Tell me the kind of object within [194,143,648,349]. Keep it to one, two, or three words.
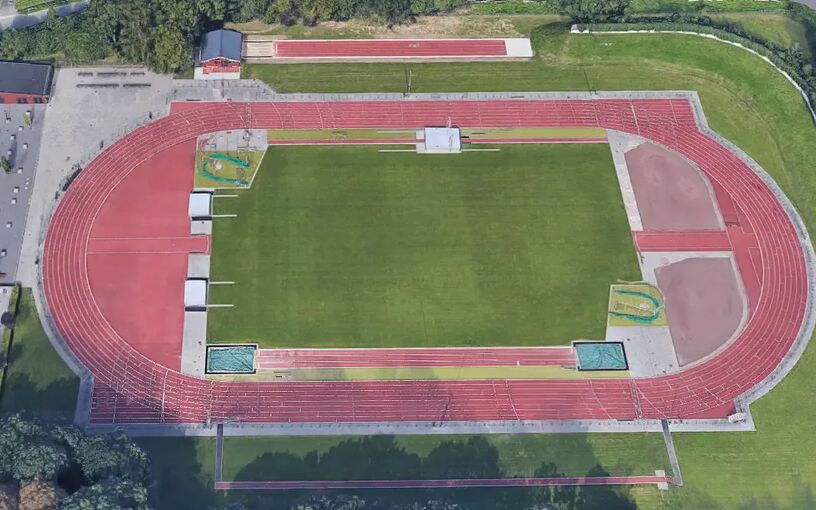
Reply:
sports field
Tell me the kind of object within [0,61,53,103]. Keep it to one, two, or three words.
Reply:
building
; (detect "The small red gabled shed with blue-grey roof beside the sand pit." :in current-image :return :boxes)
[199,27,241,75]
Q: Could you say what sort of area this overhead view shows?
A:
sports ground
